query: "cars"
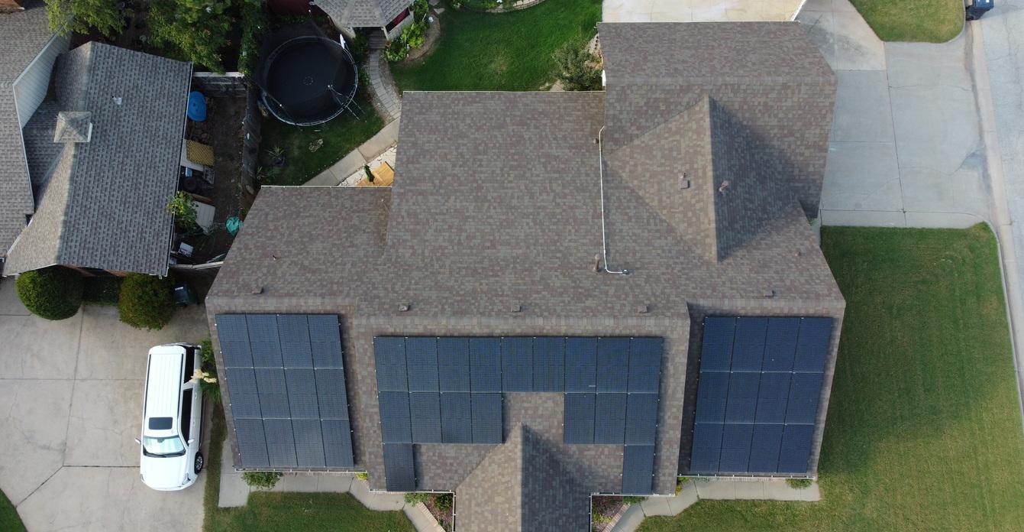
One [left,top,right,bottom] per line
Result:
[135,341,210,493]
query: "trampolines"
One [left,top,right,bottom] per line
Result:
[251,18,366,131]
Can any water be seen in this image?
No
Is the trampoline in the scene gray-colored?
No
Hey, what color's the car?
white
